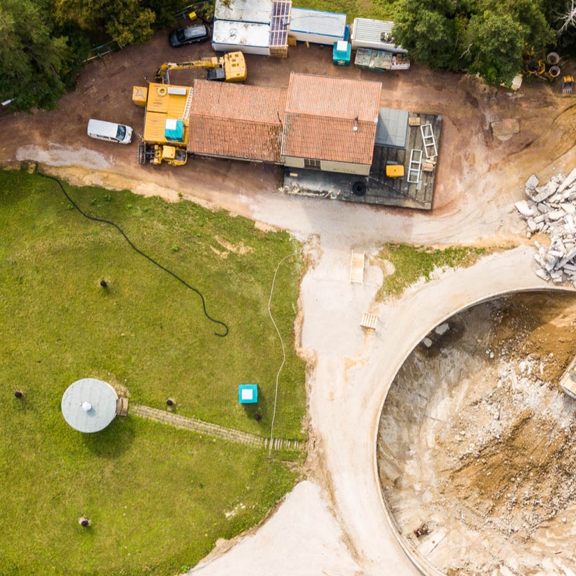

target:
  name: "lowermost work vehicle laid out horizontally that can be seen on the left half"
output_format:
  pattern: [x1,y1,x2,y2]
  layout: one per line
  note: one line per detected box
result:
[137,144,185,170]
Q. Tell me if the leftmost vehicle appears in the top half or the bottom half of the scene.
top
